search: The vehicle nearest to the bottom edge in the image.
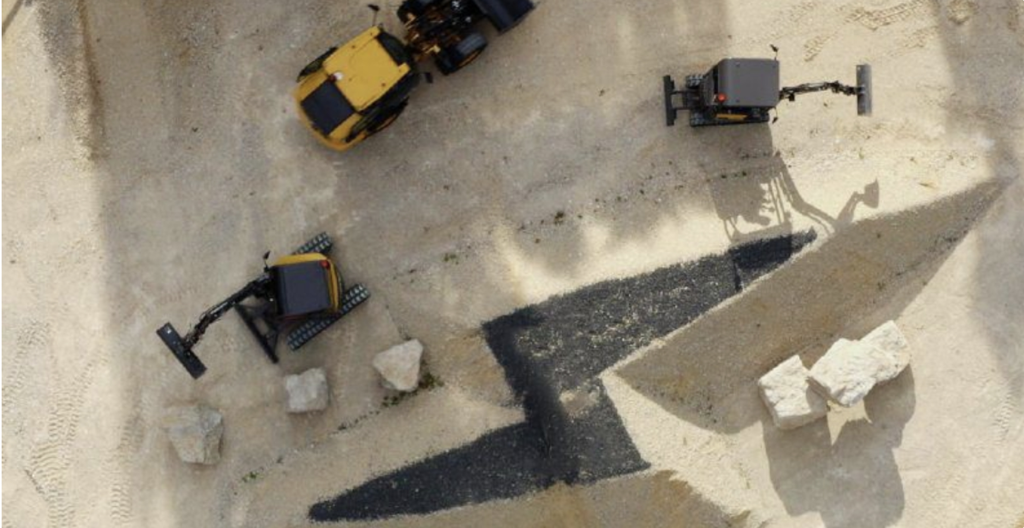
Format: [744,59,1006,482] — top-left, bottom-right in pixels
[158,232,372,380]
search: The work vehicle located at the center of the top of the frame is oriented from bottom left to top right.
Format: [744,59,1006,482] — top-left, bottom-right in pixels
[296,0,540,150]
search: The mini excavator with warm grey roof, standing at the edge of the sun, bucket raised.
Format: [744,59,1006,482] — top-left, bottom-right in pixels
[661,46,874,129]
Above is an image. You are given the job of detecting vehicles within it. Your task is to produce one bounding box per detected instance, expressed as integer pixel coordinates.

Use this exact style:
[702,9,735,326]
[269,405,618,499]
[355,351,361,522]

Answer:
[661,46,874,129]
[158,232,372,380]
[296,0,540,150]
